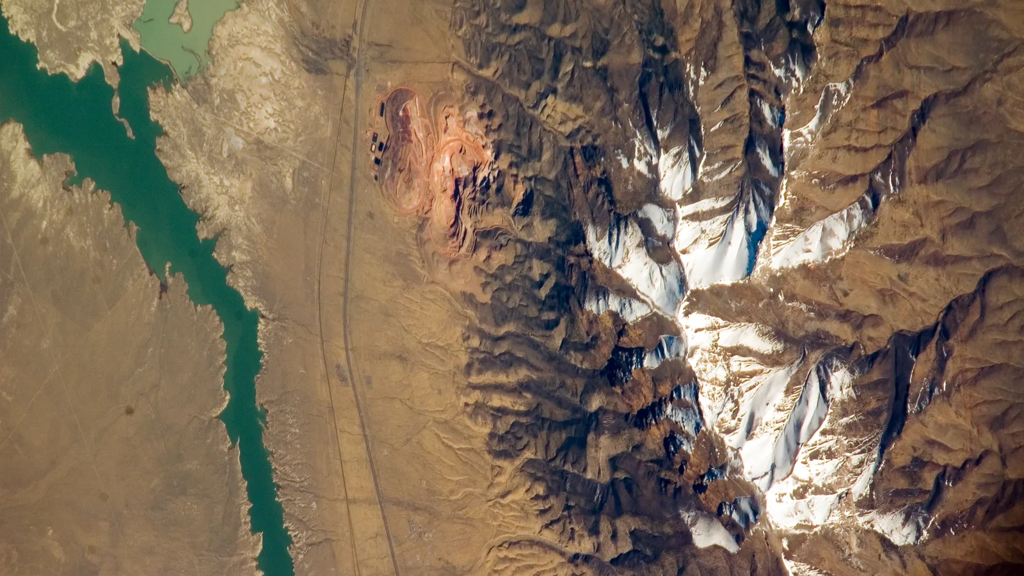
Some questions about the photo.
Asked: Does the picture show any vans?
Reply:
No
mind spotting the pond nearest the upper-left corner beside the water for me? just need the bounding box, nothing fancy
[136,0,245,87]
